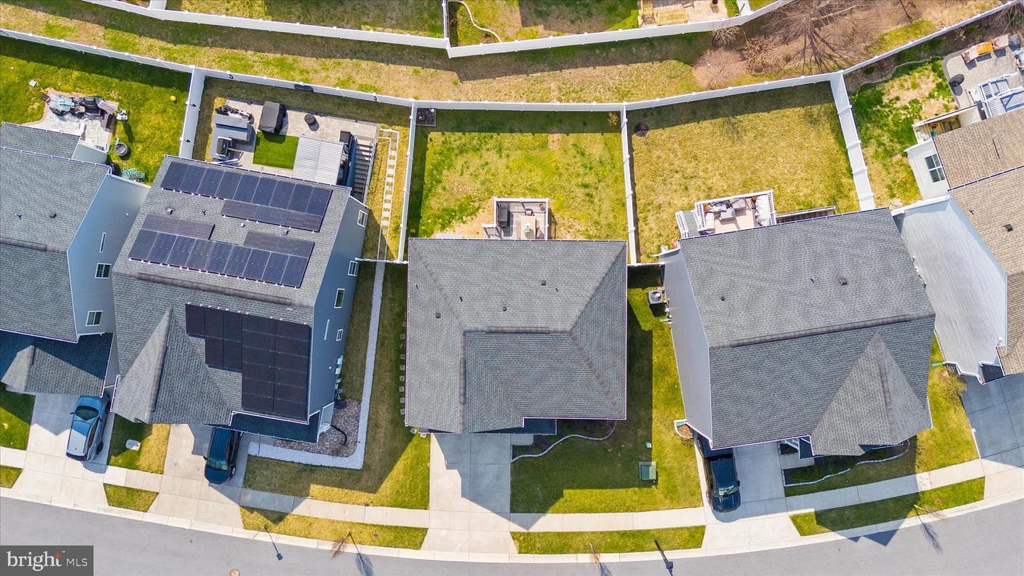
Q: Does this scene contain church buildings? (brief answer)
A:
No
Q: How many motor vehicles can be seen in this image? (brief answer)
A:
3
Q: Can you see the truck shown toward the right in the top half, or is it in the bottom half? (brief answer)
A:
bottom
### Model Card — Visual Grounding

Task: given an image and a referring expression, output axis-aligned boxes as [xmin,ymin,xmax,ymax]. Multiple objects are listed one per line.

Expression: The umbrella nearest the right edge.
[953,70,976,84]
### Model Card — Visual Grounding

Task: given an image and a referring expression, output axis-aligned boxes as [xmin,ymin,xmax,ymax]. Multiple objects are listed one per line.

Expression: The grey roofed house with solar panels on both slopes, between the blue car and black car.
[108,153,366,446]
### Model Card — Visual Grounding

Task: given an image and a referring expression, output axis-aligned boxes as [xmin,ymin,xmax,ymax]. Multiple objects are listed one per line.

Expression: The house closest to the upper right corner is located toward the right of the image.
[900,107,1024,393]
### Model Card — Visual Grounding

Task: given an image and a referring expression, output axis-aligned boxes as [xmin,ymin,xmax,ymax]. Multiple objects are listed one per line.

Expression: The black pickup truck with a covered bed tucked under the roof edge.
[698,434,743,512]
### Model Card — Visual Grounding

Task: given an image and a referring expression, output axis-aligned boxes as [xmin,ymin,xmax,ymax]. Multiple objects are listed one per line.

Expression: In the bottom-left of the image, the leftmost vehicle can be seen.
[64,395,110,465]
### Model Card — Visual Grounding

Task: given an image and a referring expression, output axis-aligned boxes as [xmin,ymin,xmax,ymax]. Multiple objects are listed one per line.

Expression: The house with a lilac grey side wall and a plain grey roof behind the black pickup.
[654,205,936,462]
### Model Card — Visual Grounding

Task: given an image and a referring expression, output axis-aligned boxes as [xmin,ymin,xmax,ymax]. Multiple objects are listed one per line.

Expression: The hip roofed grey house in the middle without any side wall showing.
[405,237,628,435]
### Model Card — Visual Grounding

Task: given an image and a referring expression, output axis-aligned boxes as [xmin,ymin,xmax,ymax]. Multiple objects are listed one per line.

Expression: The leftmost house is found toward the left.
[0,119,152,397]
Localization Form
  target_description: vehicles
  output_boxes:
[202,427,242,484]
[698,434,743,512]
[64,395,110,465]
